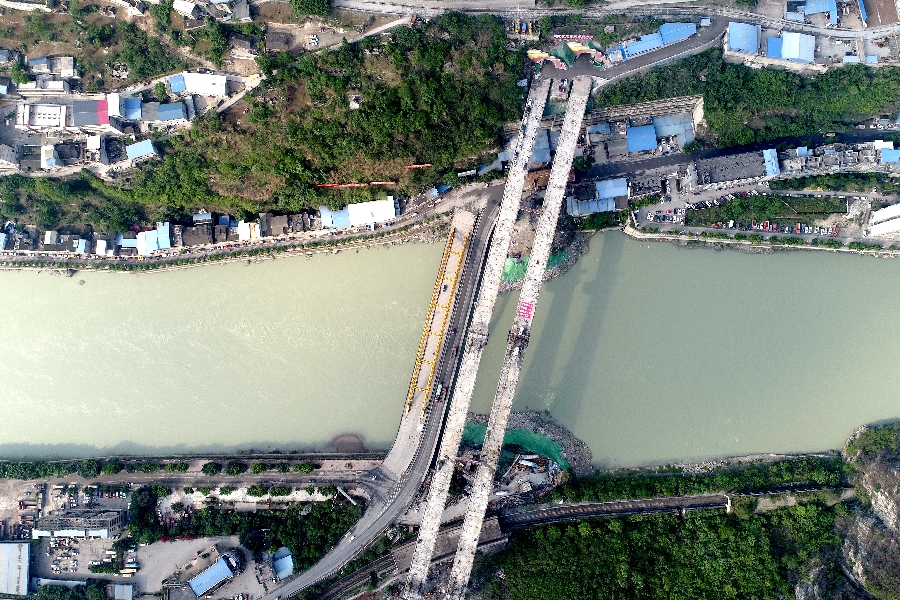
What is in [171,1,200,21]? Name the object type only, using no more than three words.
barn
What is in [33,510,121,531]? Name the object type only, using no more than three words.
building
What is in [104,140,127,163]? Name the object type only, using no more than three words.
house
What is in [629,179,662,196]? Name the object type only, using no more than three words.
shed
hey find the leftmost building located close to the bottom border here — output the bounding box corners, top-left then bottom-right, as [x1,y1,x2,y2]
[0,538,38,595]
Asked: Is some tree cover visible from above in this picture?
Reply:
Yes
